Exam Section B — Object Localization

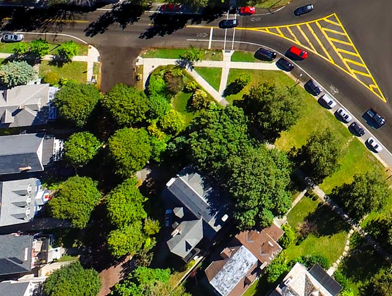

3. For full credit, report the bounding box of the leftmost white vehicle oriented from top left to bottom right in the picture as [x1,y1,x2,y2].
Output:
[320,93,336,107]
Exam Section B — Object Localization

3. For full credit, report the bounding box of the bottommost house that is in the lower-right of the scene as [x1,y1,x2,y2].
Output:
[275,261,342,296]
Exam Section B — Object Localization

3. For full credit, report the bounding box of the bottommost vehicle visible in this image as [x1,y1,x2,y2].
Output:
[367,137,383,152]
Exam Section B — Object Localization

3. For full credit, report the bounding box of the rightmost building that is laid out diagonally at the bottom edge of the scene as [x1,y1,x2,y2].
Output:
[200,218,286,296]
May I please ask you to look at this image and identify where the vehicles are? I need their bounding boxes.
[288,45,309,59]
[349,122,365,136]
[276,58,293,70]
[367,137,383,152]
[239,6,256,14]
[221,20,237,27]
[320,93,336,107]
[336,107,352,121]
[364,109,383,126]
[296,4,313,14]
[257,48,276,60]
[5,33,22,41]
[305,80,320,94]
